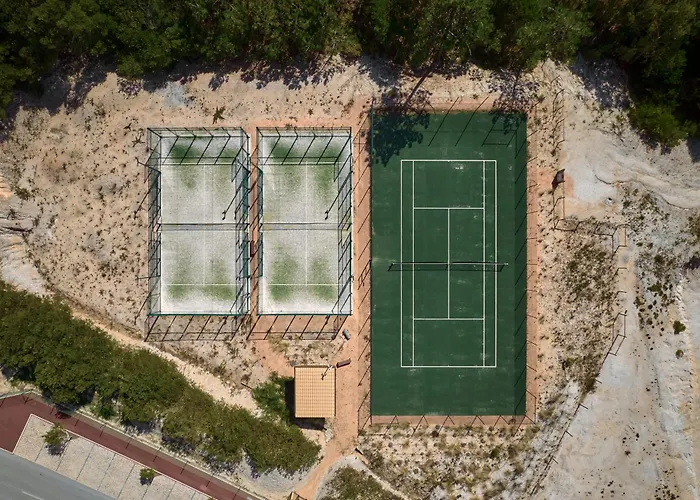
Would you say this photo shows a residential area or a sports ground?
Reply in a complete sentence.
This image shows a sports ground.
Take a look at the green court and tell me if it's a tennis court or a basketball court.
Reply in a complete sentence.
Looking closely, the green court is a tennis court.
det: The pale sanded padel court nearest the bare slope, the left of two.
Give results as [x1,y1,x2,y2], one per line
[145,127,251,317]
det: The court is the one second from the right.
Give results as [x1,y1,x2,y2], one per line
[255,127,353,317]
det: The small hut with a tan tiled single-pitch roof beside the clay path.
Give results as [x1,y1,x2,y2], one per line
[295,365,336,417]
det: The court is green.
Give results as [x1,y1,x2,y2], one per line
[362,109,537,425]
